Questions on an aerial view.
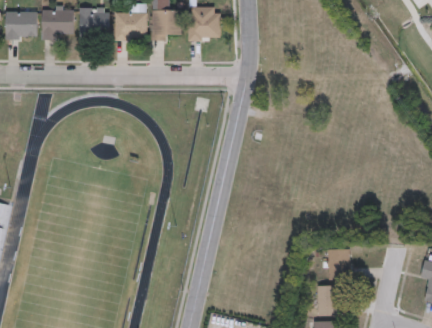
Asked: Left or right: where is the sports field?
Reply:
left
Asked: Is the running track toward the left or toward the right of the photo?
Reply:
left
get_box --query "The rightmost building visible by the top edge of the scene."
[189,0,222,41]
